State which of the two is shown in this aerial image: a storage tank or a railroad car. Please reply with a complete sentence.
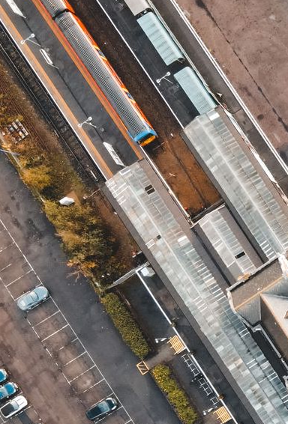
Looking from above, you can make out a railroad car.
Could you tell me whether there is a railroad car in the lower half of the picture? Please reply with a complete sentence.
No, no railroad car can be made out in the lower half of the picture.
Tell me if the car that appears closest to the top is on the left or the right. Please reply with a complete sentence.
You can find the car that appears closest to the top on the left side of the picture.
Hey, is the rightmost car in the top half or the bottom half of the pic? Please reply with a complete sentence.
The rightmost car sits in the bottom half of the picture.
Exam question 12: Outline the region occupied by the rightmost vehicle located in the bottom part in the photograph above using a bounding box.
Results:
[83,395,121,422]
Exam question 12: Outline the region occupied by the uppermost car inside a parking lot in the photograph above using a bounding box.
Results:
[16,286,52,309]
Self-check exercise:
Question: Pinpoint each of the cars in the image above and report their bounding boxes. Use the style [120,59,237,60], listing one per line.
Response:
[83,395,121,422]
[0,368,9,384]
[16,286,52,309]
[0,395,30,418]
[0,381,20,402]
